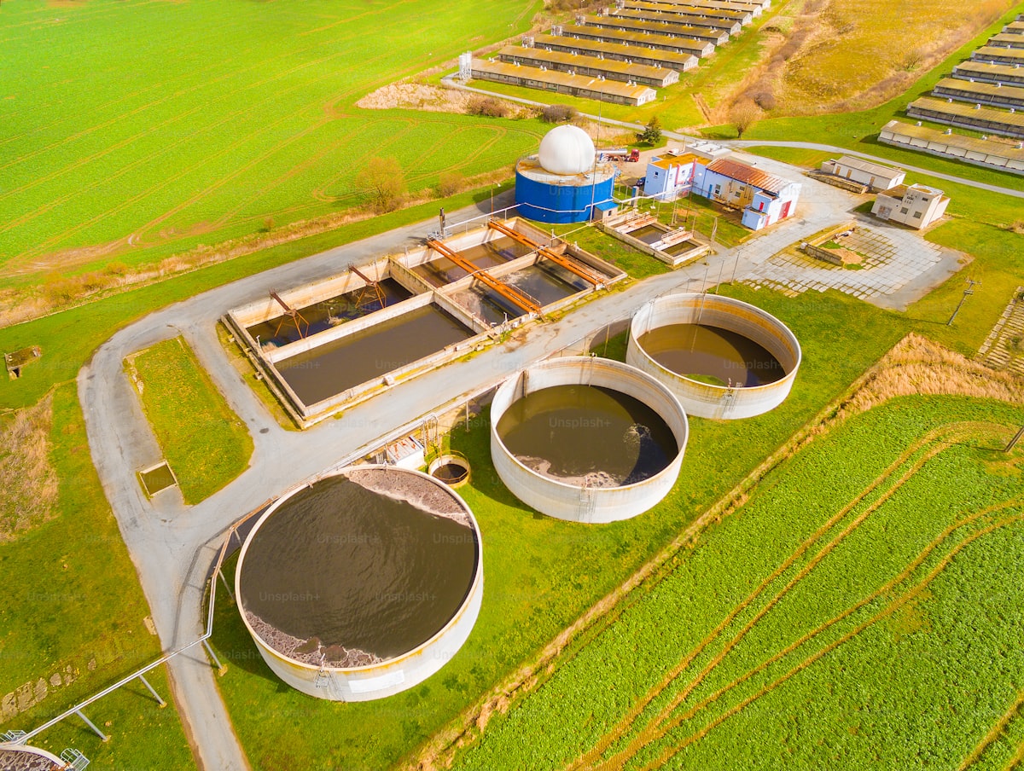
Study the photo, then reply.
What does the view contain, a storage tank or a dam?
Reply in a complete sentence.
Looking from above, you can make out a storage tank.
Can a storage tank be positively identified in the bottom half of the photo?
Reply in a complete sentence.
Yes, I can see a storage tank in the bottom half of the photo.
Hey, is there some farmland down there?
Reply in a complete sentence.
Yes, there's farmland in this view.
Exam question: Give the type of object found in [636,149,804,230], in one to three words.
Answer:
building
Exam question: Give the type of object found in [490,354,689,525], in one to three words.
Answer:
storage tank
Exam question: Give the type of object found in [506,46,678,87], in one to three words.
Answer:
barn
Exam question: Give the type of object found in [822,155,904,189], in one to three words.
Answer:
shed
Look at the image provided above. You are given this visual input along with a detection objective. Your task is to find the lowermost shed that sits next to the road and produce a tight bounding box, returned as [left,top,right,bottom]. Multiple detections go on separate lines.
[391,431,426,467]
